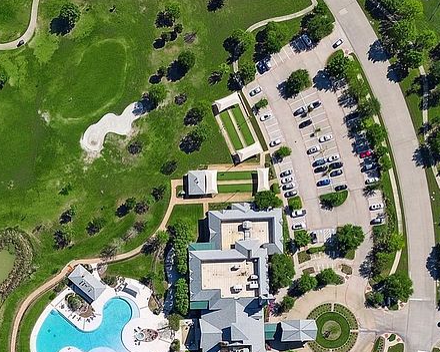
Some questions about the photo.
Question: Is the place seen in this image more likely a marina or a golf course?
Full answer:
It's a golf course.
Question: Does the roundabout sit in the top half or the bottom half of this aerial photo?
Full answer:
The roundabout sits in the bottom half of the picture.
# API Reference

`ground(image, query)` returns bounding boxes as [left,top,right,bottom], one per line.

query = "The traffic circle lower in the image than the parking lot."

[306,302,358,352]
